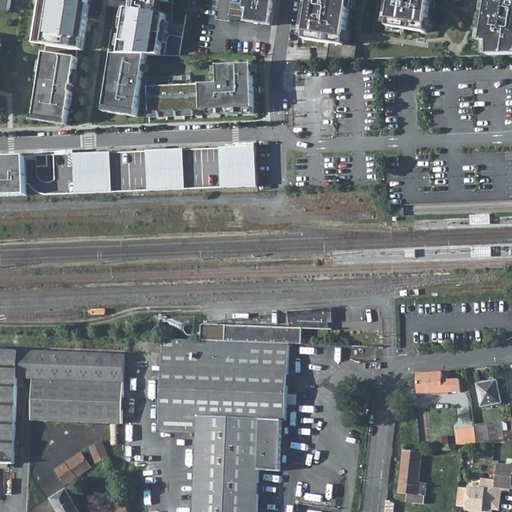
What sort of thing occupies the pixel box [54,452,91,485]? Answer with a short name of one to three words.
barn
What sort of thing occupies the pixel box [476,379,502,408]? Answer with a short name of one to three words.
house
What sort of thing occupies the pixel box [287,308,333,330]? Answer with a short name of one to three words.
building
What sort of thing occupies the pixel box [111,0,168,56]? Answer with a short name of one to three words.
building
